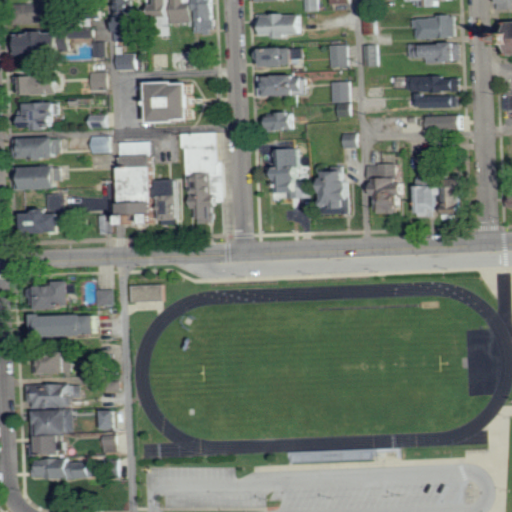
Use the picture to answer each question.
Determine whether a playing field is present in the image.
Yes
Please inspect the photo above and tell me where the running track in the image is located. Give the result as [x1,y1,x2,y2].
[136,274,512,458]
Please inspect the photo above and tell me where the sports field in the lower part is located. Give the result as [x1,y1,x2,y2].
[150,296,492,441]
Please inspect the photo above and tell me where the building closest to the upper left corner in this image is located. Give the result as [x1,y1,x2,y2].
[12,3,40,28]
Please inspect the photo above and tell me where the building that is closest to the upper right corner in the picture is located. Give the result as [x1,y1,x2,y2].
[478,23,512,56]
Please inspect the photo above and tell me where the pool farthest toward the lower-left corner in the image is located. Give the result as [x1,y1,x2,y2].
[83,281,96,306]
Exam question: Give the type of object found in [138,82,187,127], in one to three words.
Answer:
building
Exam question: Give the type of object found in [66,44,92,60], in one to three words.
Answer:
swimming pool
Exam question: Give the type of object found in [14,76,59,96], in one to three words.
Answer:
house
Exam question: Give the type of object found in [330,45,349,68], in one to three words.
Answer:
building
